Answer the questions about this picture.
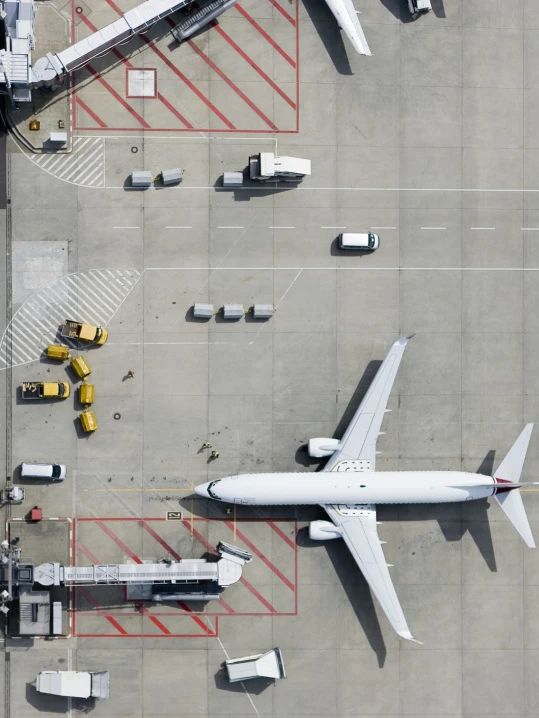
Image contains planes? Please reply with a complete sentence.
Yes, the photo shows a plane.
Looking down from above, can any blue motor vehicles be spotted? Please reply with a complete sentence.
No, the photo shows no blue motor vehicle.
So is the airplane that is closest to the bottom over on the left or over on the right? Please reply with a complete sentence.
The airplane that is closest to the bottom appears in the right half of the scene.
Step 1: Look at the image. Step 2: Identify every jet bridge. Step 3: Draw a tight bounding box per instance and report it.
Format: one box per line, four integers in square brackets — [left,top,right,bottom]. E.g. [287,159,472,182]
[32,543,255,600]
[32,0,243,86]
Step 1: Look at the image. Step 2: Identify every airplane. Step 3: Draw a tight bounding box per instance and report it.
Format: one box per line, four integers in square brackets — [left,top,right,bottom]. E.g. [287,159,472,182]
[328,0,370,55]
[194,333,539,641]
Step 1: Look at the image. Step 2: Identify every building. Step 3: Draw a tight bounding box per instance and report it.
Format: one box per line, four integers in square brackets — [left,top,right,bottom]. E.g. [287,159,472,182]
[0,0,39,106]
[20,583,53,634]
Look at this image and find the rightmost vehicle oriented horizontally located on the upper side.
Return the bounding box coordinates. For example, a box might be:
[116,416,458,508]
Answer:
[336,231,380,251]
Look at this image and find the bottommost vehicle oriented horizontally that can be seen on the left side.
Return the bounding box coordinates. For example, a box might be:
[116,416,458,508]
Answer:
[20,461,67,481]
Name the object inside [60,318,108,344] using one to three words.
truck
